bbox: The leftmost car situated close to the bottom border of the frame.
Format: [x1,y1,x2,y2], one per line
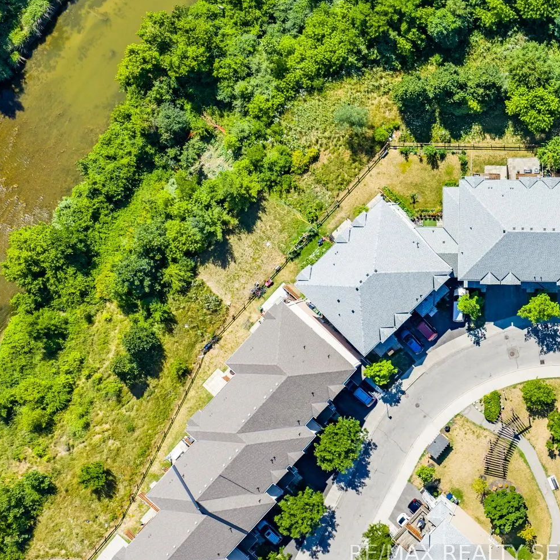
[257,518,286,546]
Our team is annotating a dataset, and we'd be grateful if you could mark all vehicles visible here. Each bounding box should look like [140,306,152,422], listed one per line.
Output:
[397,326,425,355]
[405,495,432,515]
[257,518,286,546]
[411,314,444,346]
[393,510,411,530]
[347,380,382,411]
[452,286,468,323]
